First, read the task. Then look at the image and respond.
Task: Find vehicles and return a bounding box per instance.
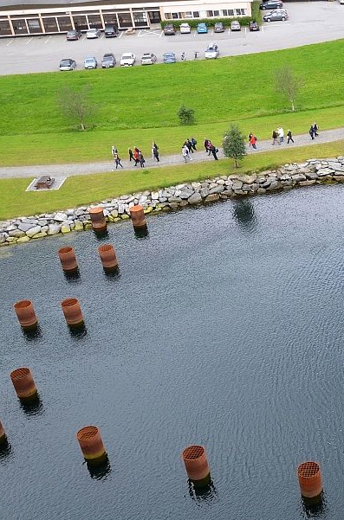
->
[86,24,102,37]
[196,19,209,31]
[139,51,154,64]
[263,0,282,9]
[82,53,99,68]
[264,9,290,21]
[59,56,76,70]
[119,50,136,65]
[179,20,192,31]
[105,21,121,36]
[65,26,82,39]
[229,17,242,29]
[163,21,177,34]
[100,50,117,67]
[161,48,177,62]
[212,19,225,30]
[203,44,217,58]
[247,19,260,30]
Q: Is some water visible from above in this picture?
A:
Yes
